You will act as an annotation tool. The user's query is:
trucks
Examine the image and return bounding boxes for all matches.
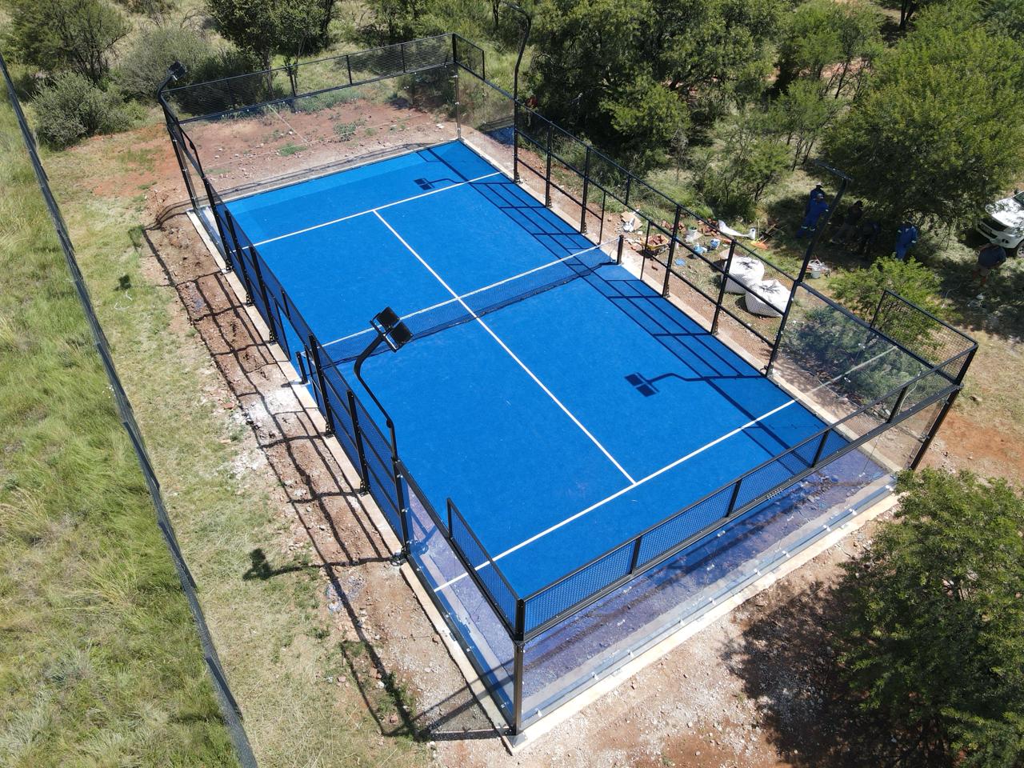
[971,189,1024,261]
